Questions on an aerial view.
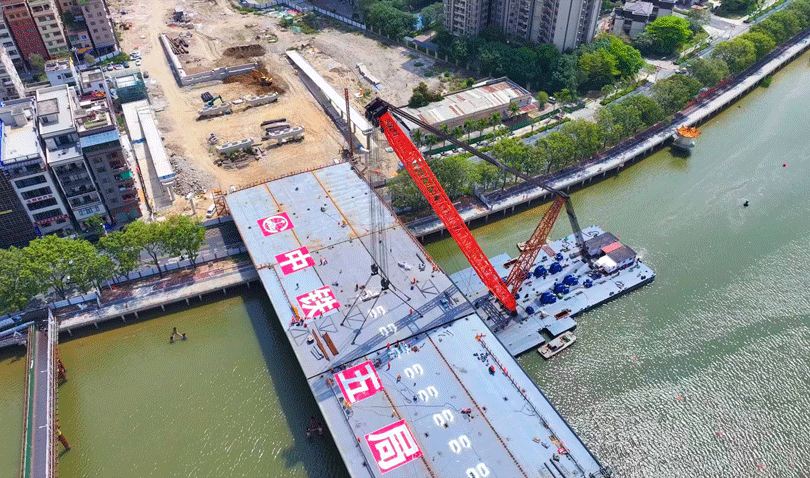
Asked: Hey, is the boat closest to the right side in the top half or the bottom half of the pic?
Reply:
top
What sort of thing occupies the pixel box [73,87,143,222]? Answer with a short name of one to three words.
house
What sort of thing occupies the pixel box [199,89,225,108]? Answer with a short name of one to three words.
work vehicle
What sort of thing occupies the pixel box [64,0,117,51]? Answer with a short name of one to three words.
building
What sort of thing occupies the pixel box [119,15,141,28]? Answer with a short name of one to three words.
vehicle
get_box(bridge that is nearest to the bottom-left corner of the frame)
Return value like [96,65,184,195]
[19,309,81,478]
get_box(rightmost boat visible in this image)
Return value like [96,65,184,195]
[670,131,701,154]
